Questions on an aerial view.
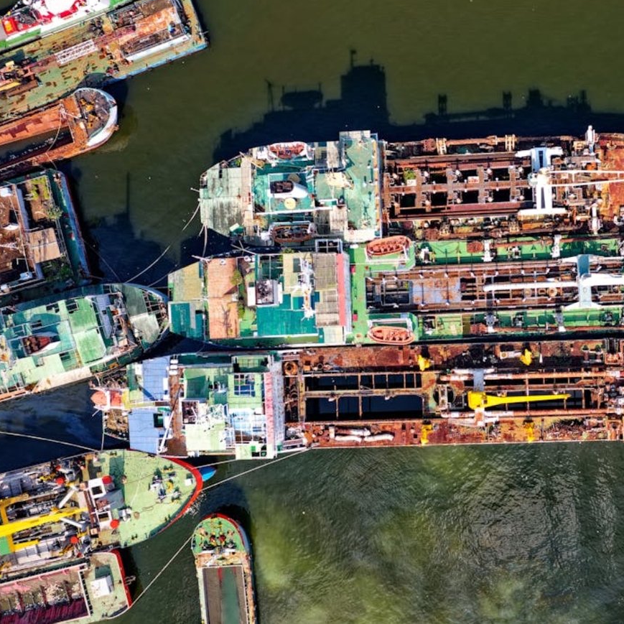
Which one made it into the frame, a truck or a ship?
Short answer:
ship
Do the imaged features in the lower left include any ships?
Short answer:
Yes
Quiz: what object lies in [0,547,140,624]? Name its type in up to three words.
ship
